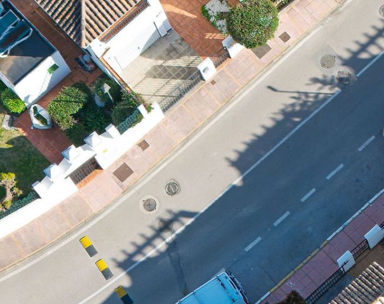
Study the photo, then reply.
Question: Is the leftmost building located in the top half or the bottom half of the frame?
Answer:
top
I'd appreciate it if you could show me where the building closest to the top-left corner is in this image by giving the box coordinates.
[0,1,70,104]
